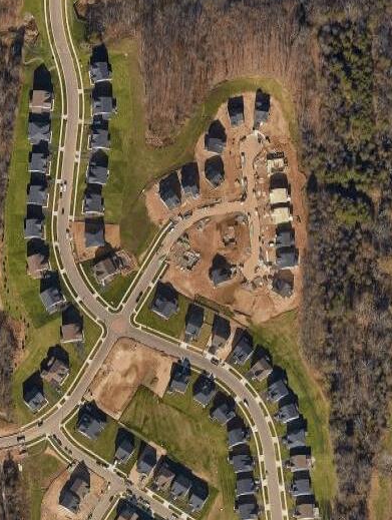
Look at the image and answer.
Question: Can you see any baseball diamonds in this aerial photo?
No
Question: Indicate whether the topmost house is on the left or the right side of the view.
left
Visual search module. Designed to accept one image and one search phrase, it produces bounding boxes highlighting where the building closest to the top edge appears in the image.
[90,58,110,80]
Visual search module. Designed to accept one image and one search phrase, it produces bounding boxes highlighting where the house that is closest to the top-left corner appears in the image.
[28,87,52,108]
